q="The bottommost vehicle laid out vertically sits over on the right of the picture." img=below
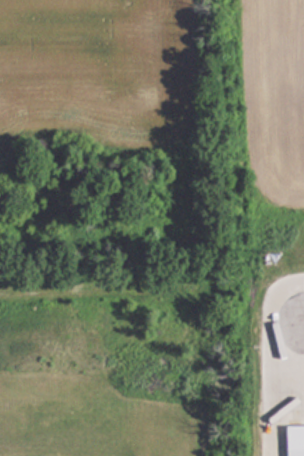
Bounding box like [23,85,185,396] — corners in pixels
[272,310,288,360]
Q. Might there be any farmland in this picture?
Yes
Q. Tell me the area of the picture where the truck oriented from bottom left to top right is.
bottom right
